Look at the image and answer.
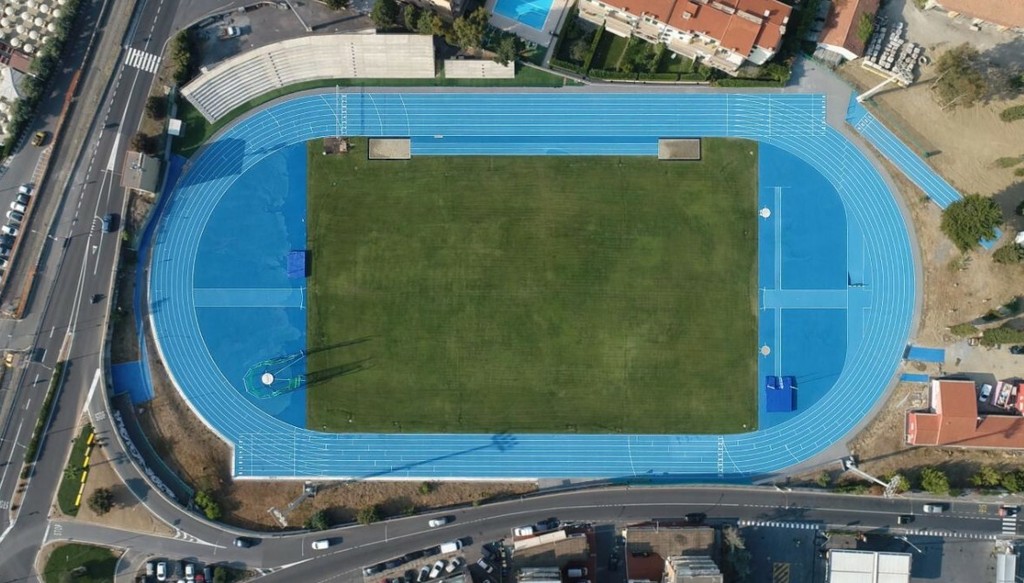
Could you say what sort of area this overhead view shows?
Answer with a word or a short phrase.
sports ground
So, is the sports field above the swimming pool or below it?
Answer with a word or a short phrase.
below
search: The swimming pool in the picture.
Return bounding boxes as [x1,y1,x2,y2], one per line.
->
[486,0,564,47]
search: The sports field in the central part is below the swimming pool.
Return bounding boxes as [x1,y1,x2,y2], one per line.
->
[307,137,758,434]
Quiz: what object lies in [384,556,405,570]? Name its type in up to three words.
car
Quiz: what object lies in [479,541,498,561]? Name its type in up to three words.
vehicle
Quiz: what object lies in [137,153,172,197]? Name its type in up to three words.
building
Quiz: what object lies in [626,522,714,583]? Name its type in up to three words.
building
